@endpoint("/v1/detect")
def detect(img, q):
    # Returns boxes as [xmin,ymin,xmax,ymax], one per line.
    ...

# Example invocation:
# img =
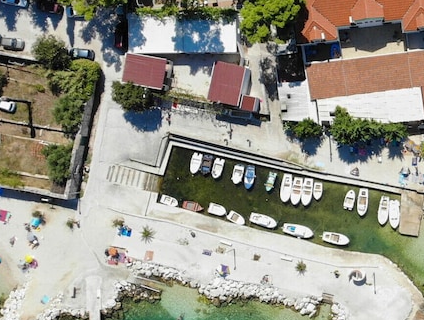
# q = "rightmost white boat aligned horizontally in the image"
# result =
[320,230,351,244]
